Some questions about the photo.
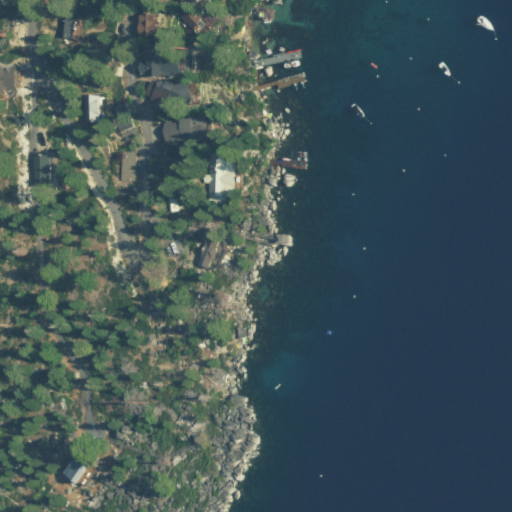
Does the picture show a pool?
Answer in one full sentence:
No, I can see no pool in this picture.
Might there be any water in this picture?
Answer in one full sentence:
Yes, some water is visible.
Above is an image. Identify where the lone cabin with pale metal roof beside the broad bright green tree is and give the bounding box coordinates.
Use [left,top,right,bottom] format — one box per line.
[62,460,94,488]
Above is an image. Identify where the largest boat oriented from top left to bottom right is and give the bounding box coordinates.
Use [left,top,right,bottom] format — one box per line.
[476,15,493,30]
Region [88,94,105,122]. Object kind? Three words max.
house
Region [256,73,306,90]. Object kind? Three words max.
pier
